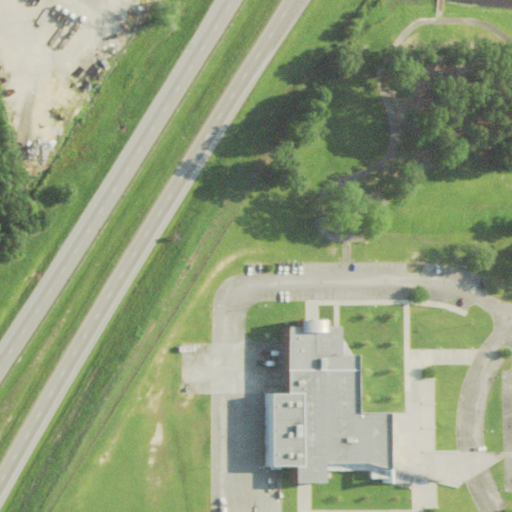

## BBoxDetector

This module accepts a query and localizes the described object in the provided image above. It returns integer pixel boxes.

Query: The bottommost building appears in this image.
[266,318,460,488]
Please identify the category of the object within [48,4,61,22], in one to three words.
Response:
vehicle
